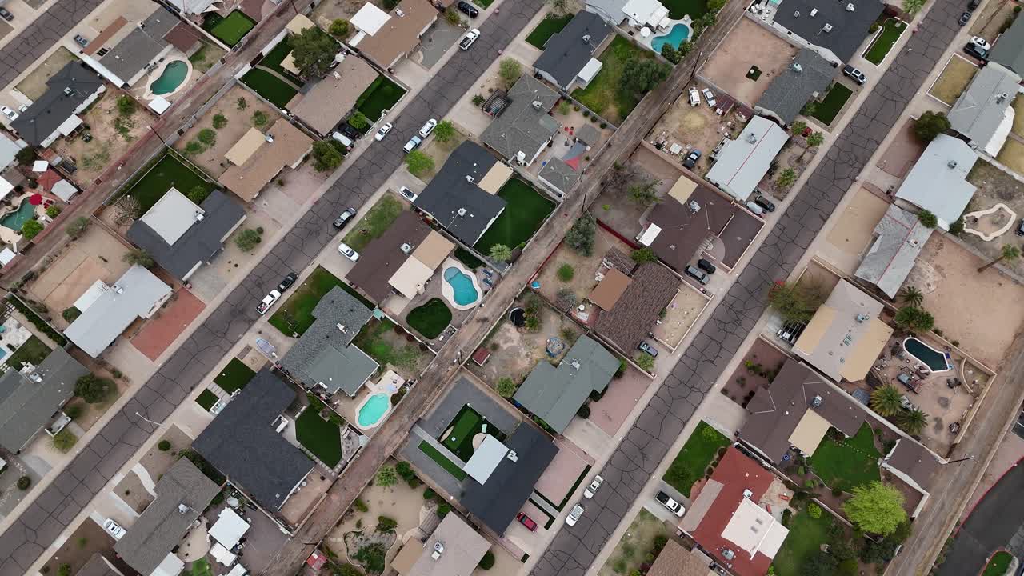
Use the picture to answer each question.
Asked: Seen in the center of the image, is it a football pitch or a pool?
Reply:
pool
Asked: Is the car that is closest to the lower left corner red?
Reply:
No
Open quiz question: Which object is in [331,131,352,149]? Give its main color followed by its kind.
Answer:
white vehicle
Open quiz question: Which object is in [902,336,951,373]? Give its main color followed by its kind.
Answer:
black swimming pool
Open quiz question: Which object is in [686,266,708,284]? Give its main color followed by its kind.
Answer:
gray car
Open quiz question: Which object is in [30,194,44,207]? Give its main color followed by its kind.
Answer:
red umbrella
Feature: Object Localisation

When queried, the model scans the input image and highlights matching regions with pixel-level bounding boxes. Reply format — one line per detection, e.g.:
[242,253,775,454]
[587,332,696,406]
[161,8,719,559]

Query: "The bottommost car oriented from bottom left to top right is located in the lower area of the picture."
[565,502,584,527]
